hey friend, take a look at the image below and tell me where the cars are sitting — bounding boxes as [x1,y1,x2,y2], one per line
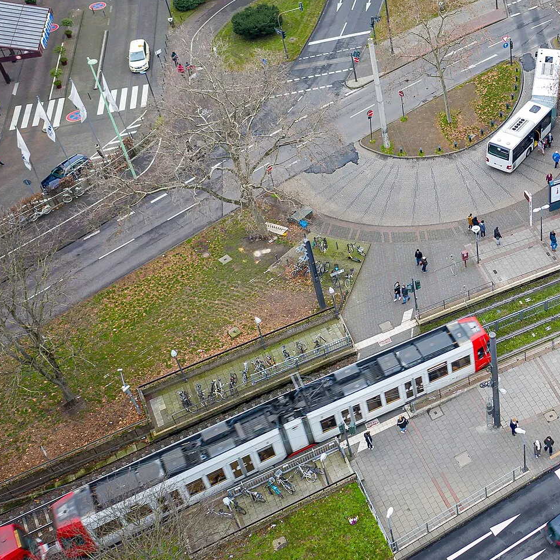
[541,514,560,555]
[36,156,93,187]
[128,40,147,67]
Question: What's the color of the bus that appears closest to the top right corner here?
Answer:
white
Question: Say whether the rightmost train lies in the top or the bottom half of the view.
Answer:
bottom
